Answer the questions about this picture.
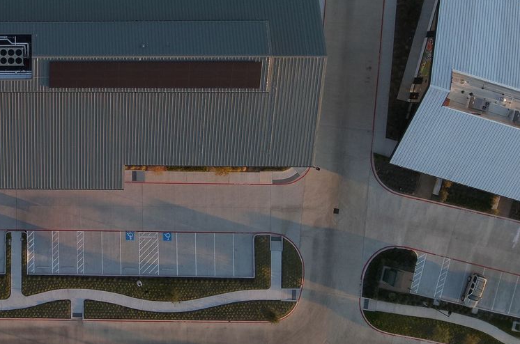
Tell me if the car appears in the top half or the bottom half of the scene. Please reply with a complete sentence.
The car is in the bottom half of the image.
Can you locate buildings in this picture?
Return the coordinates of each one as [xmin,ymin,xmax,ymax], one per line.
[0,0,329,191]
[387,0,520,201]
